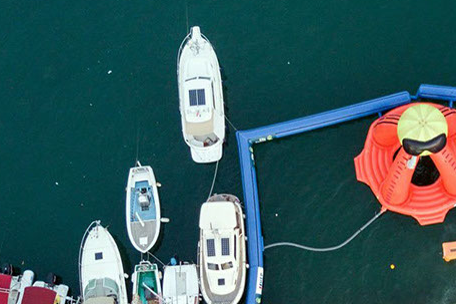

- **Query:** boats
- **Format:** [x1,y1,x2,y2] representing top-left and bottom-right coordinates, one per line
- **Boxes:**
[74,218,134,304]
[0,266,33,304]
[126,142,165,253]
[196,196,250,304]
[149,253,200,304]
[19,279,76,304]
[178,9,240,195]
[132,256,165,304]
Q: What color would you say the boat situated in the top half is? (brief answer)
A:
white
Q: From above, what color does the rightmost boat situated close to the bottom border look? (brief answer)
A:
white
